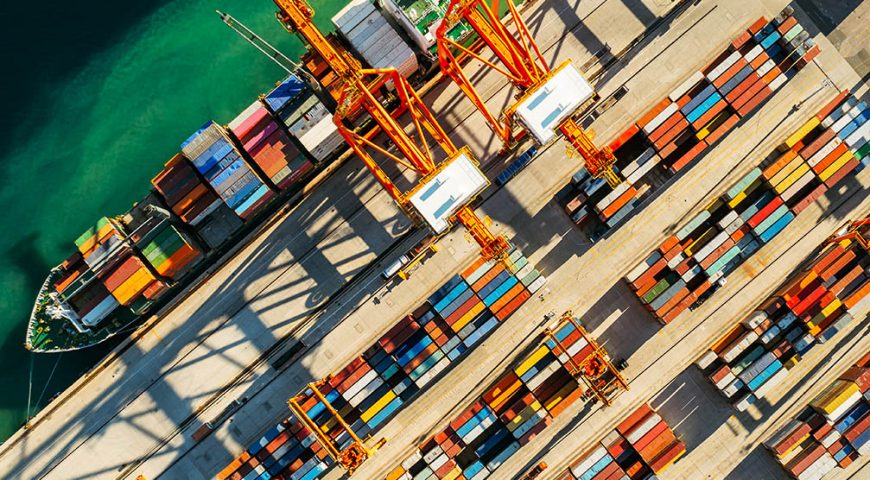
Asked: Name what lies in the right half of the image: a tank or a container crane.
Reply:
container crane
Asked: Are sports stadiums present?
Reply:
No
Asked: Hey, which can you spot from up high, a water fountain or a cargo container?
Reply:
cargo container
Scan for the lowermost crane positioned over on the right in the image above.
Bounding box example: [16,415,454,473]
[535,313,636,408]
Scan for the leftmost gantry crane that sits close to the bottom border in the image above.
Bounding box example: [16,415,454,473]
[286,373,399,477]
